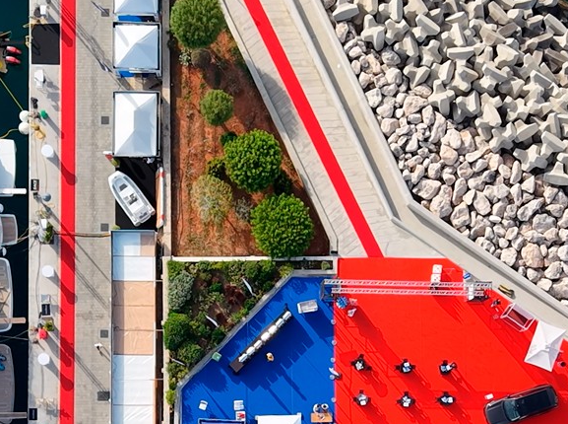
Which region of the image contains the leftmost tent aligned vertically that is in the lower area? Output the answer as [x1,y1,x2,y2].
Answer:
[112,230,165,424]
